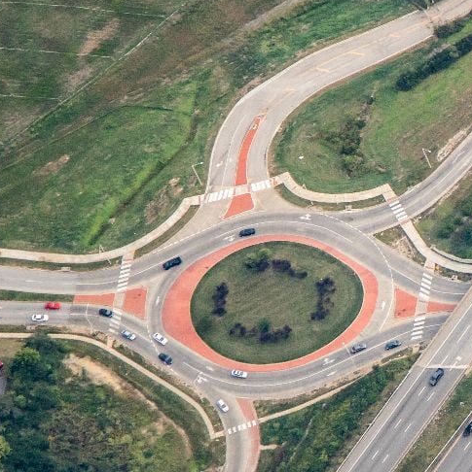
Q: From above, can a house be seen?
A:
No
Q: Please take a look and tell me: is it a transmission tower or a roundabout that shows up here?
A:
roundabout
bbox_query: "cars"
[350,343,367,352]
[463,422,472,436]
[217,399,228,413]
[231,371,246,377]
[121,329,136,340]
[98,308,113,317]
[164,257,179,268]
[153,333,168,344]
[32,315,48,322]
[44,301,60,309]
[157,352,172,364]
[384,341,400,350]
[239,227,254,236]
